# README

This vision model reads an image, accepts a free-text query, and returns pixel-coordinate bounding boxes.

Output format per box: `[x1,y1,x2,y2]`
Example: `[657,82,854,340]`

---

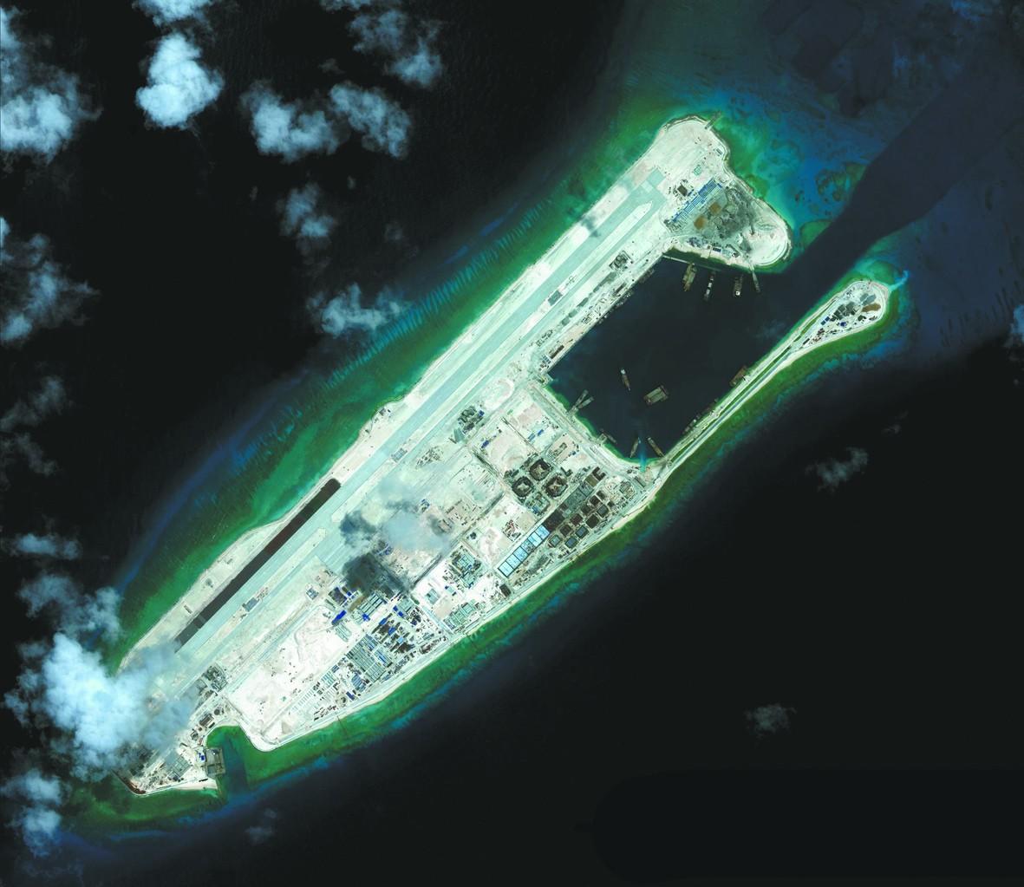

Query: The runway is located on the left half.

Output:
[120,185,651,722]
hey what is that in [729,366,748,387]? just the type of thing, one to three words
ship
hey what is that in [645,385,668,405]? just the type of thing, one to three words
ship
